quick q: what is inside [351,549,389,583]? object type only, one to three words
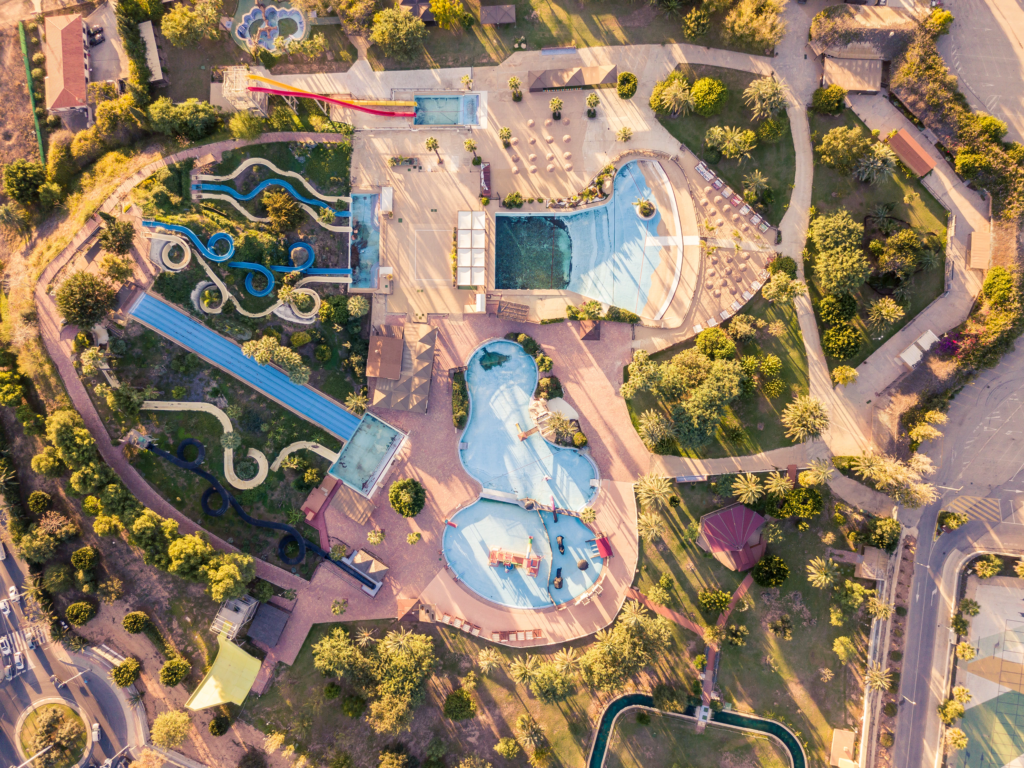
building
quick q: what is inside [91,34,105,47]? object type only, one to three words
vehicle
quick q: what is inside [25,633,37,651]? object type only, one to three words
vehicle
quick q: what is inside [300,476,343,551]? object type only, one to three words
building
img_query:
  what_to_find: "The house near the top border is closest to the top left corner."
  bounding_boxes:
[44,14,98,117]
